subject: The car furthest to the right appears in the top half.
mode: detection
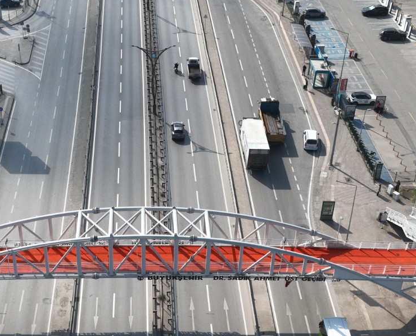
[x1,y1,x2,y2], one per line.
[379,27,409,41]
